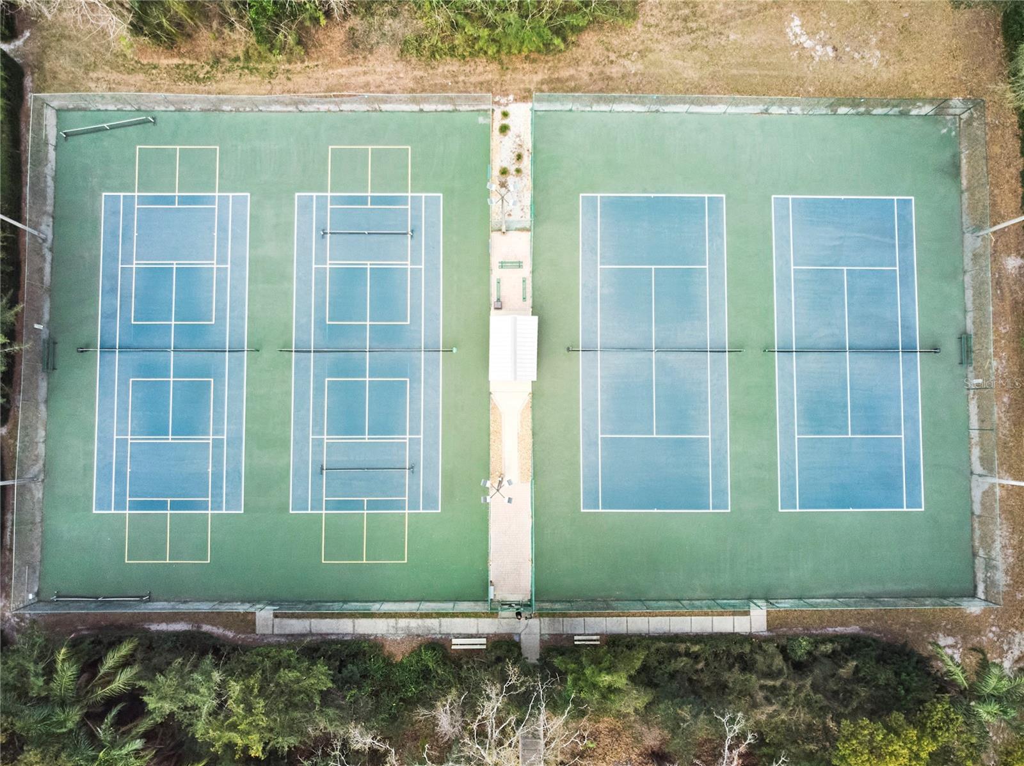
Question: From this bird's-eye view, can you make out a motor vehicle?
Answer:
No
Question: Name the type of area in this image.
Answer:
sports ground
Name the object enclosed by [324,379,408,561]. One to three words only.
sports court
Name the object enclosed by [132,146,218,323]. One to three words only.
sports court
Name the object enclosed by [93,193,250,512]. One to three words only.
tennis court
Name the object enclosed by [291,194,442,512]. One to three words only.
tennis court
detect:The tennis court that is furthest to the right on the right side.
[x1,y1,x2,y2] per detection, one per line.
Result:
[772,196,924,511]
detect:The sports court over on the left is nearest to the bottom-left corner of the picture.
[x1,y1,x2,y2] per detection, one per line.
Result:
[125,379,213,562]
